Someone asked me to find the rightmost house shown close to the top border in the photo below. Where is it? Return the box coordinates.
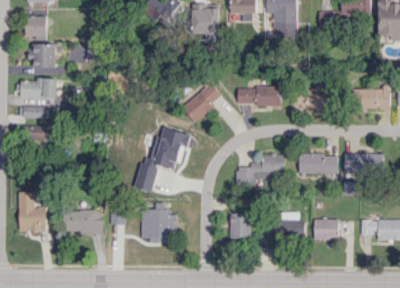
[379,0,400,42]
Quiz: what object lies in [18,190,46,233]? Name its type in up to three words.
house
